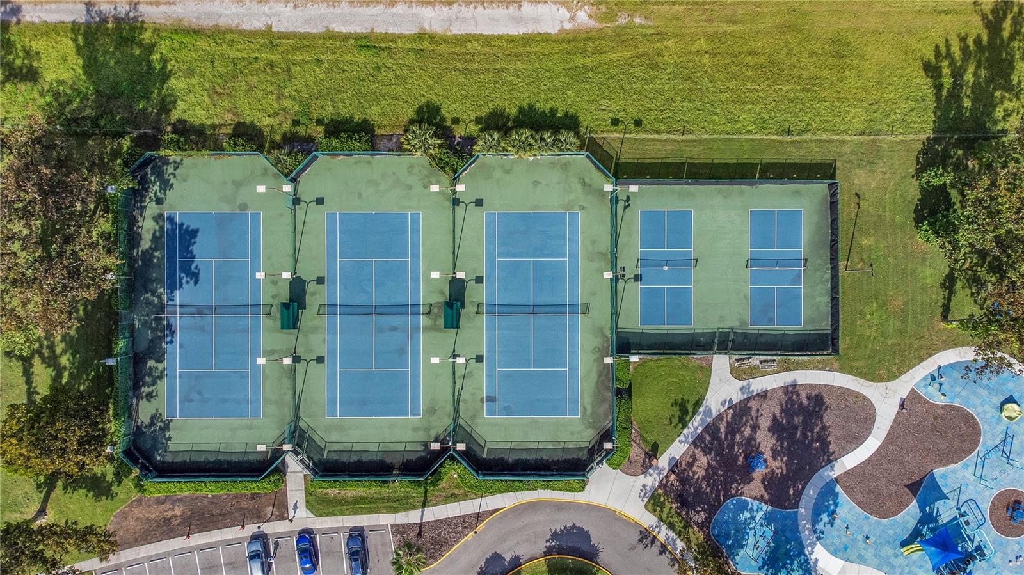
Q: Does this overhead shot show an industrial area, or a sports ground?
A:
sports ground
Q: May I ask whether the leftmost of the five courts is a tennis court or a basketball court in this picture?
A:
tennis court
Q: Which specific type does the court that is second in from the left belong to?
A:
tennis court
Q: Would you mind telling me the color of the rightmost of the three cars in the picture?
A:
blue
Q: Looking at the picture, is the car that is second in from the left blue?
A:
Yes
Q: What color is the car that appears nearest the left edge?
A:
blue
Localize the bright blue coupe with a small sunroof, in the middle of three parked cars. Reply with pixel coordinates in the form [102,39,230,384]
[296,534,318,574]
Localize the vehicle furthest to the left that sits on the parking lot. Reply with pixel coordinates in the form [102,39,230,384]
[247,539,271,575]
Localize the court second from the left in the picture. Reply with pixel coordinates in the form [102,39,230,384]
[296,157,453,472]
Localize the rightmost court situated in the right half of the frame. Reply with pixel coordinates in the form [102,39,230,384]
[721,184,830,353]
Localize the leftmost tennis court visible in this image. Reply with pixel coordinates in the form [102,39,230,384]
[133,157,298,474]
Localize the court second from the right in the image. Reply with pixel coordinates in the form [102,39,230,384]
[615,183,721,353]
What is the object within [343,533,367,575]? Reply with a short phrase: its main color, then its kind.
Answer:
blue car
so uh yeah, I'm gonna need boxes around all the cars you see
[296,534,318,574]
[343,533,367,575]
[247,539,271,575]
